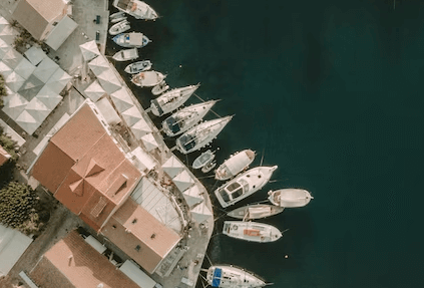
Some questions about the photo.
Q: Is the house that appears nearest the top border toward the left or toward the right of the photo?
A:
left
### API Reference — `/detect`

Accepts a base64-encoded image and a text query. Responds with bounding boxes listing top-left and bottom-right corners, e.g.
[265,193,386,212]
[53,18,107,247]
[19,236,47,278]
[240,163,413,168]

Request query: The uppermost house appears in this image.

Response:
[14,0,72,39]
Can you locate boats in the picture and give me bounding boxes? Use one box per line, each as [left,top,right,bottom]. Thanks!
[110,19,133,34]
[152,81,172,94]
[144,84,202,115]
[111,13,131,21]
[237,186,314,208]
[111,31,150,49]
[199,257,270,288]
[209,217,282,241]
[117,59,155,72]
[214,201,285,220]
[110,48,140,62]
[192,147,217,166]
[167,112,238,159]
[210,164,282,208]
[202,159,217,171]
[200,150,260,195]
[128,68,167,88]
[158,99,220,136]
